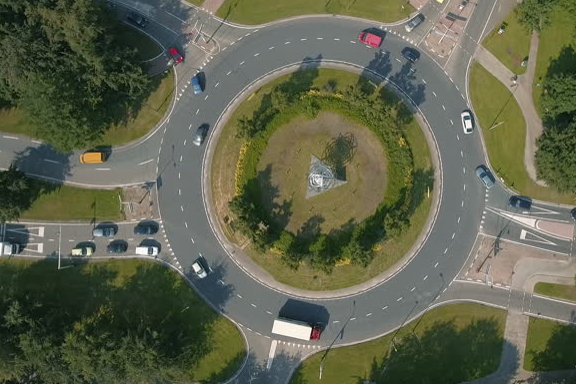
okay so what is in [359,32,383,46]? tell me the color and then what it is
red vehicle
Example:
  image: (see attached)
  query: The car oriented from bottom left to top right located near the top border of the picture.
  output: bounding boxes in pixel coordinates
[403,12,425,32]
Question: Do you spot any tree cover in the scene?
Yes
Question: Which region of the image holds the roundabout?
center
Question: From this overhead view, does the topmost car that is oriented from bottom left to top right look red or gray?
gray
